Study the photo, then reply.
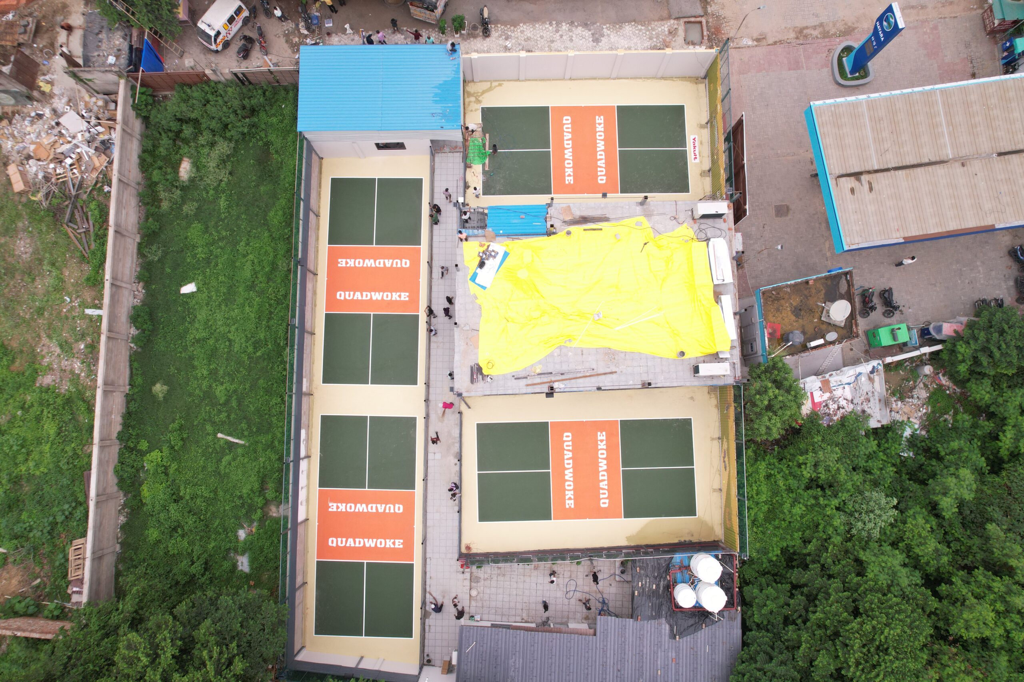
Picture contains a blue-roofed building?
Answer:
Yes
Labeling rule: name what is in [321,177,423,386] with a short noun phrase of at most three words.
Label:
sports court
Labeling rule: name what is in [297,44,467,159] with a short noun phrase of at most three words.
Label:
building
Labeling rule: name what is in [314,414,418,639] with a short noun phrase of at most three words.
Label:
sports court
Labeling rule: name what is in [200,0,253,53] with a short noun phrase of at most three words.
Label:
van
